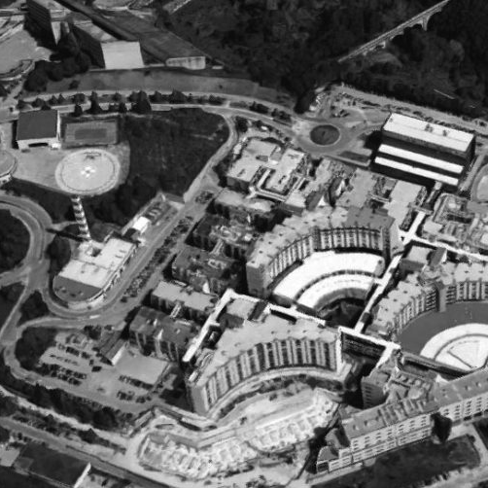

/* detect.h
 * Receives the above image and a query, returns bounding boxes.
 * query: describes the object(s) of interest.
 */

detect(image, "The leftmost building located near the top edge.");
[19,0,57,44]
